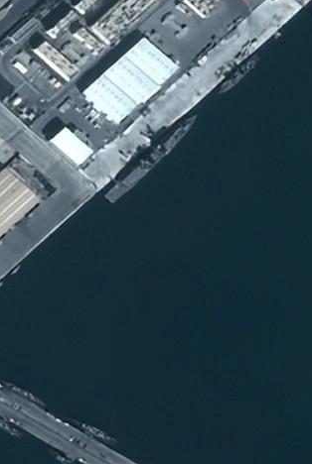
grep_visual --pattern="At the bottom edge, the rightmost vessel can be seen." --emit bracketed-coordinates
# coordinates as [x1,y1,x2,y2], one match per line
[70,416,119,445]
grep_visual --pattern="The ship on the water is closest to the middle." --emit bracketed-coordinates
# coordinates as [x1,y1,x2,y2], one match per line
[106,114,199,204]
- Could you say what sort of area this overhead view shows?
port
